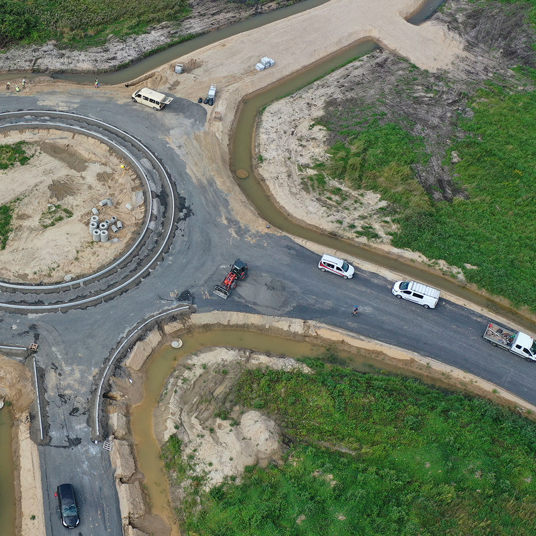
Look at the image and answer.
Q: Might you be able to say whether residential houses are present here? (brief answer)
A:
No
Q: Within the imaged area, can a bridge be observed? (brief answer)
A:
No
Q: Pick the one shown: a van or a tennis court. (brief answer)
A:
van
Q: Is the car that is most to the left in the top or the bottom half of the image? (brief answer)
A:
bottom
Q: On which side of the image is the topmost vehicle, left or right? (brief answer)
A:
left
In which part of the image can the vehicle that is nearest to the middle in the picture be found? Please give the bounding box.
[213,265,241,298]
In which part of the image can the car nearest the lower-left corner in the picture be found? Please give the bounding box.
[56,484,81,528]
